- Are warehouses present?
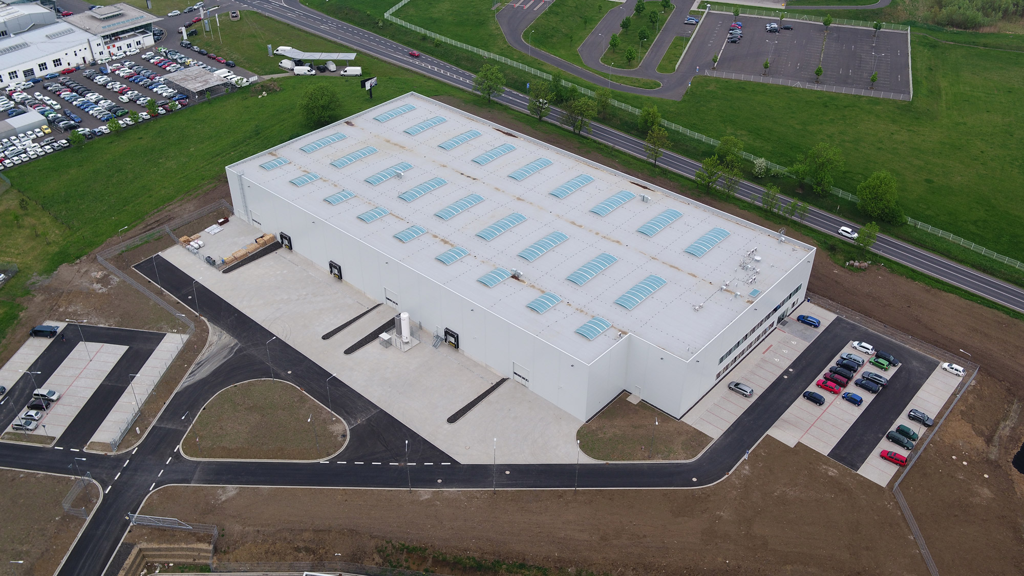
Yes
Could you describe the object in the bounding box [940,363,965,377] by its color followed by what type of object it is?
white car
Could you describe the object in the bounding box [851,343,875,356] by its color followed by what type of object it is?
white vehicle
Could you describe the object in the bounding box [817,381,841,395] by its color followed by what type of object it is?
red car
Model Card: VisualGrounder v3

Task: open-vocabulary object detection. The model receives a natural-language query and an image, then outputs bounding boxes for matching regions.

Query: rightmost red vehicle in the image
[880,451,907,468]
